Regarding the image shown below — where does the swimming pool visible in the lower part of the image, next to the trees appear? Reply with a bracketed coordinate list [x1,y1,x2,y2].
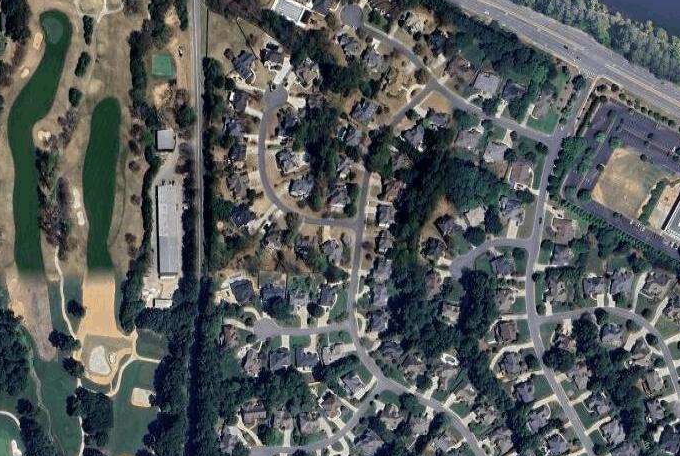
[441,353,457,366]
